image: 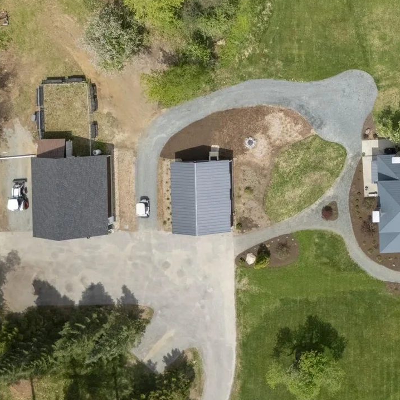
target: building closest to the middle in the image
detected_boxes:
[170,160,235,236]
